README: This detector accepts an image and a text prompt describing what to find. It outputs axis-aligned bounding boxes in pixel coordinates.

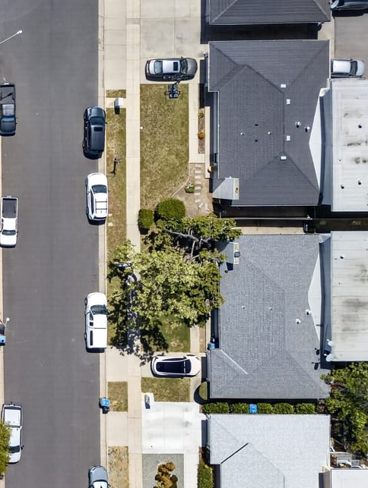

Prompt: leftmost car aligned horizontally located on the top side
[142,57,196,81]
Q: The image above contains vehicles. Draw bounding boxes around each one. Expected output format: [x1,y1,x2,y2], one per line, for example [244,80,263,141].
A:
[148,355,199,380]
[82,107,107,157]
[84,173,109,221]
[0,82,19,135]
[83,292,107,350]
[0,195,19,247]
[331,0,367,12]
[0,401,25,462]
[330,56,363,78]
[142,57,196,81]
